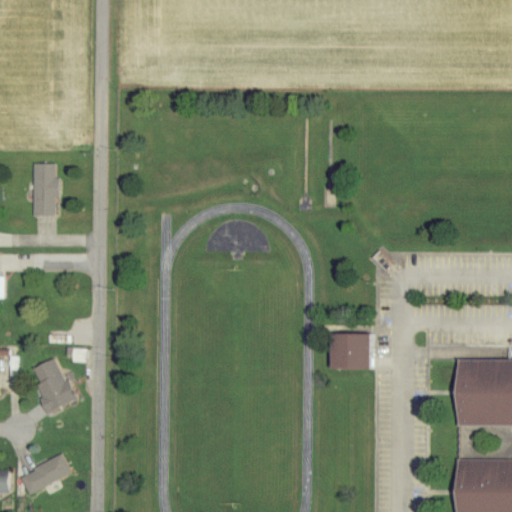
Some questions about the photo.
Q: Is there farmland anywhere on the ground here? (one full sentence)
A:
Yes, some farmland is visible.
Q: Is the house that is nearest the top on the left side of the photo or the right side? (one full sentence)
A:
You can find the house that is nearest the top on the left side of the picture.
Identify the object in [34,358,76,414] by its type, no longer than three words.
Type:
house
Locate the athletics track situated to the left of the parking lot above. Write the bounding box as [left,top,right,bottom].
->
[160,203,314,512]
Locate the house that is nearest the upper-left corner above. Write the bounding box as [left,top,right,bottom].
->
[34,164,58,216]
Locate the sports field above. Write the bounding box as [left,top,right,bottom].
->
[182,262,292,512]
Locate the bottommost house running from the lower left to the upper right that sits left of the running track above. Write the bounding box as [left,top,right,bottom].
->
[21,454,72,496]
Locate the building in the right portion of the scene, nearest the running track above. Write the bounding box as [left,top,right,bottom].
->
[330,333,374,370]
